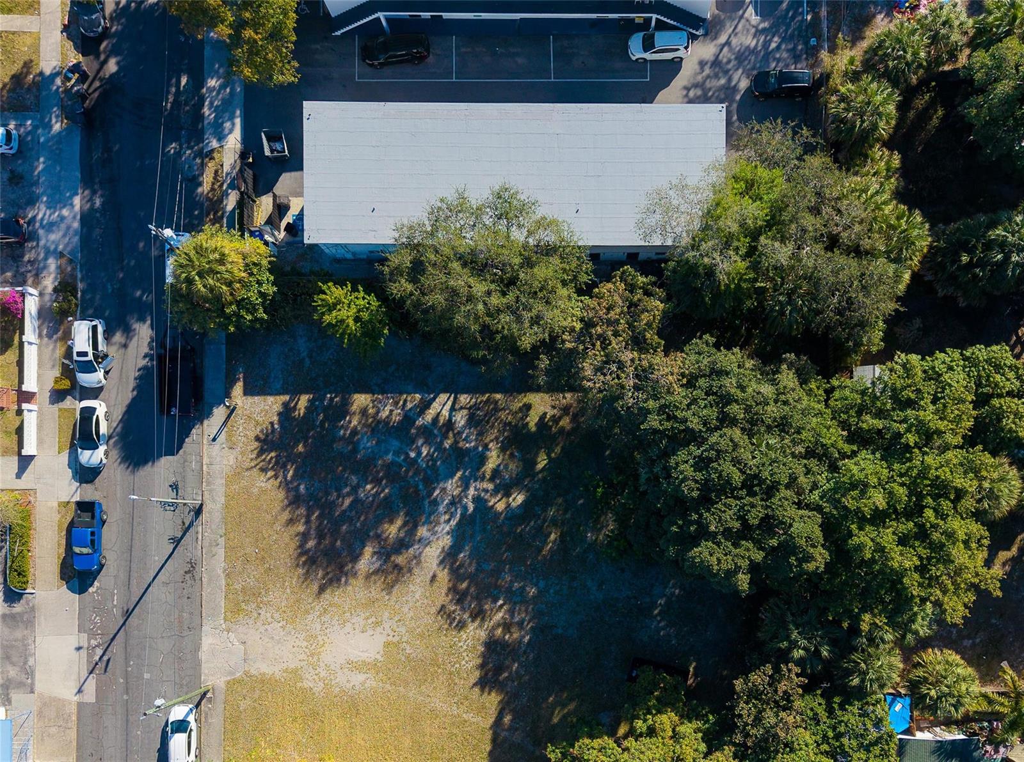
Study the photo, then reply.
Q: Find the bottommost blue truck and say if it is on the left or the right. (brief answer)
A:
left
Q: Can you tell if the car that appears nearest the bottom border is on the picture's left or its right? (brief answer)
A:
left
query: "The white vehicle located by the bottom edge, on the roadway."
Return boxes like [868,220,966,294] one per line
[166,703,201,762]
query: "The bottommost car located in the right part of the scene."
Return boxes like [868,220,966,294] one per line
[747,65,815,100]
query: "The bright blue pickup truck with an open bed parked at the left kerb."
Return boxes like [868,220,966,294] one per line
[70,499,107,570]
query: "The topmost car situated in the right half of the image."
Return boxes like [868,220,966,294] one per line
[627,28,691,63]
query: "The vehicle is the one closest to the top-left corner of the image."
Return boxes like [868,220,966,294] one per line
[73,0,107,39]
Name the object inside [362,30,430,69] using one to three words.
car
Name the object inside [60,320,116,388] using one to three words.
car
